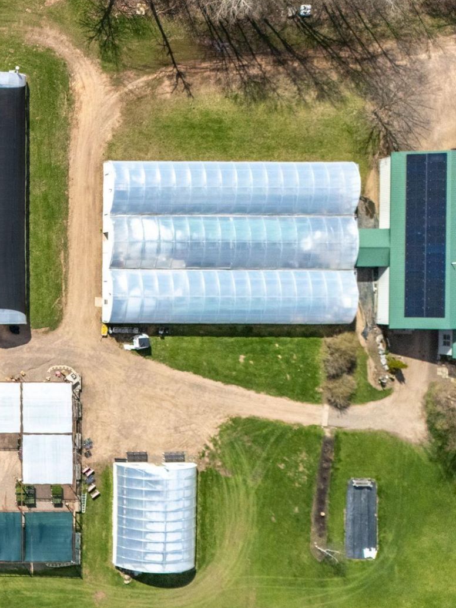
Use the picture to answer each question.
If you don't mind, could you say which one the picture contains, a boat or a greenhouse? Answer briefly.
greenhouse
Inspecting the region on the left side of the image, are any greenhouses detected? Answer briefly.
Yes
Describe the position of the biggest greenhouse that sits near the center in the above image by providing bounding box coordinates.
[99,161,368,323]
